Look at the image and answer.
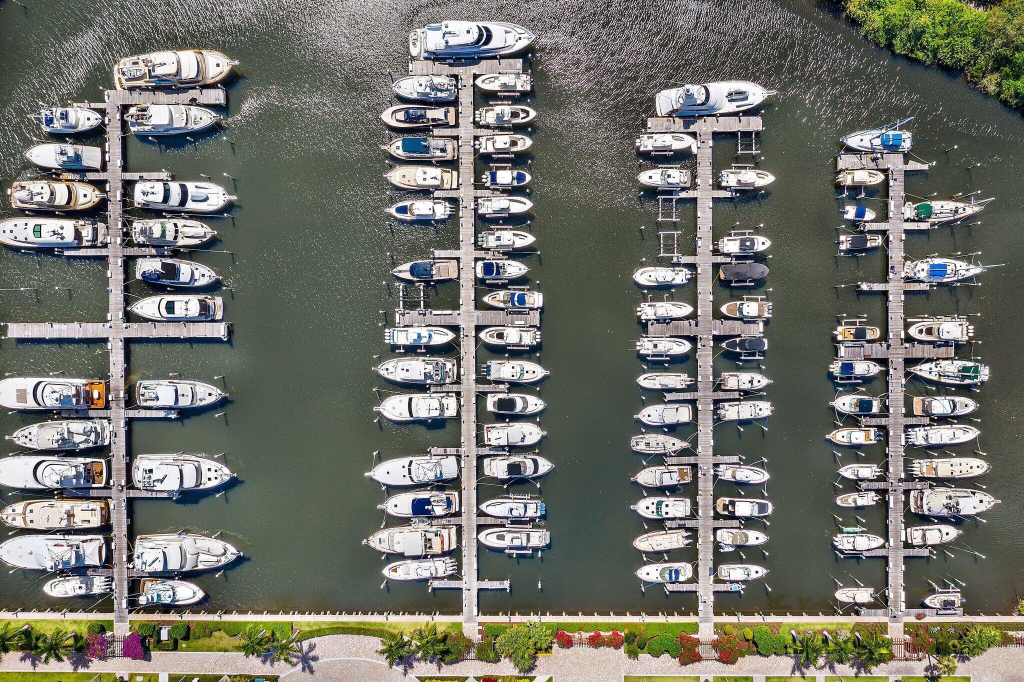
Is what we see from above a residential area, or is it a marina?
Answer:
marina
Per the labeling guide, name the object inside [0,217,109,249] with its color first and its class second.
white boat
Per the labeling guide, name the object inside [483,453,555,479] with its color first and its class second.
white boat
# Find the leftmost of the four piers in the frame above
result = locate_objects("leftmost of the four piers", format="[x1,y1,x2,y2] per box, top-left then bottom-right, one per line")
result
[7,90,229,623]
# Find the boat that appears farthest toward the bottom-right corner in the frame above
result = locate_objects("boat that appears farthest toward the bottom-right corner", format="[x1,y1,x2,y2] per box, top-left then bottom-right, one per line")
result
[920,591,969,609]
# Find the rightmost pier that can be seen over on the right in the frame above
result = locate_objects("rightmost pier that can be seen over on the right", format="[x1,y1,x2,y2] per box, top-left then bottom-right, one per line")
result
[836,154,963,623]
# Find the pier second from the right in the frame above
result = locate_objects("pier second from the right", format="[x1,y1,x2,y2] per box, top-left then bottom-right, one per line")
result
[647,117,763,623]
